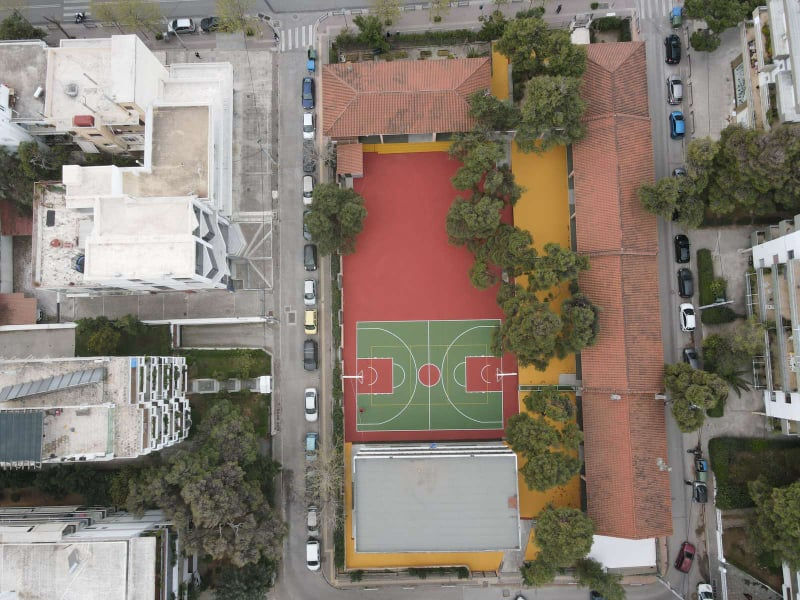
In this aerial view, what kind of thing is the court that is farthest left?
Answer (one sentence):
From above, the court that is farthest left can be identified as a basketball court.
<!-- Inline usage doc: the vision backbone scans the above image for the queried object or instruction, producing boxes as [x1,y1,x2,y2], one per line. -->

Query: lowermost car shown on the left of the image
[305,538,321,571]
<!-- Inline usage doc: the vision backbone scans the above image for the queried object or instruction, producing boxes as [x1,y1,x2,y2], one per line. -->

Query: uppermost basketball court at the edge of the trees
[356,319,504,431]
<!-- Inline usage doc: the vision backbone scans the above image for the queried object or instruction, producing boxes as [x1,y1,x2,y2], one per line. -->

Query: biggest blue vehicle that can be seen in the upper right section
[667,111,685,141]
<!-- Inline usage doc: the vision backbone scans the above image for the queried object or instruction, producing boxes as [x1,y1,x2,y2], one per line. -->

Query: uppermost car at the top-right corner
[662,35,682,66]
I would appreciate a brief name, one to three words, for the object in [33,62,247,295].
building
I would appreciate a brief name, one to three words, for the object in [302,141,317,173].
car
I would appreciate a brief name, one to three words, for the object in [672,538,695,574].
car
